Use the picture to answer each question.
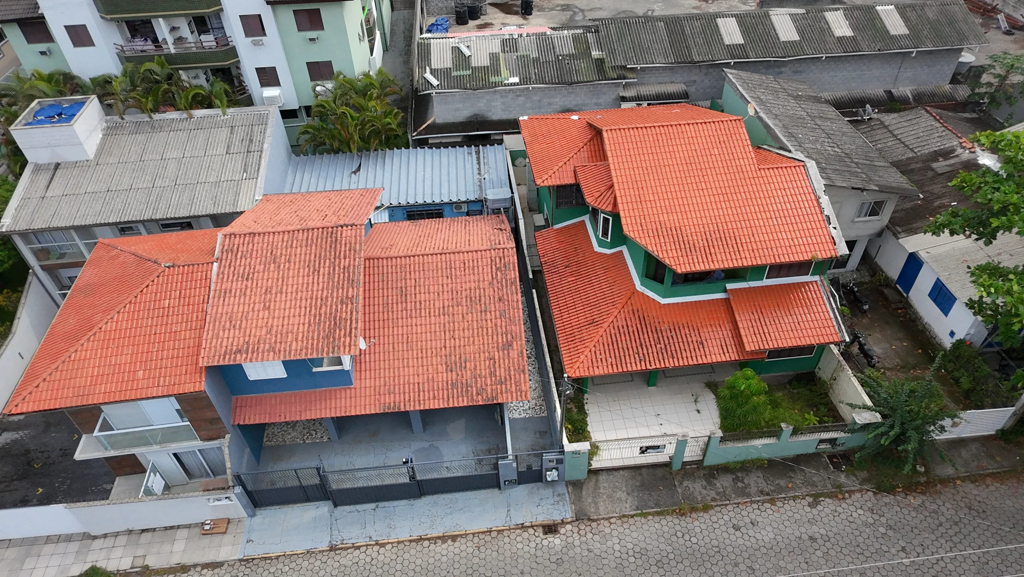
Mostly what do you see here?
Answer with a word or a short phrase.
buildings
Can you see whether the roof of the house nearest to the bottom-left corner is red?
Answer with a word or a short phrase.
Yes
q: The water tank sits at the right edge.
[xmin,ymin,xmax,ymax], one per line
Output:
[949,60,980,83]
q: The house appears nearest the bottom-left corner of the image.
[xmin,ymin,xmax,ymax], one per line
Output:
[0,230,229,486]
